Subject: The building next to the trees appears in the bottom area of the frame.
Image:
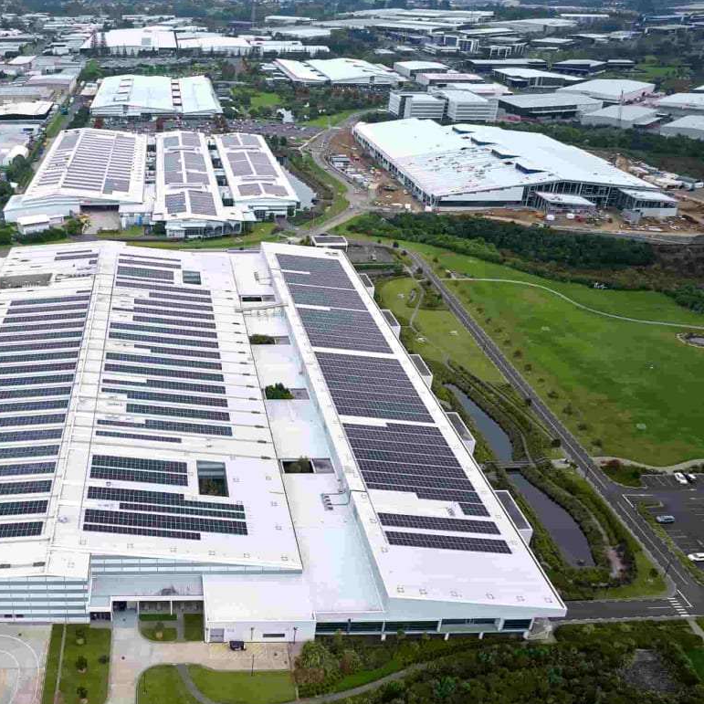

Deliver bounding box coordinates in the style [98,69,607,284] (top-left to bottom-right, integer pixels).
[0,241,565,645]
